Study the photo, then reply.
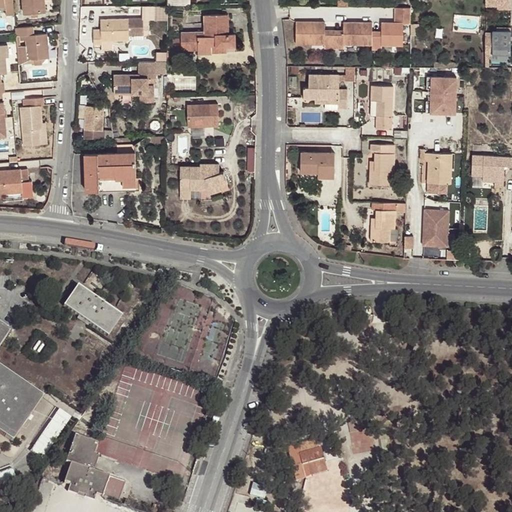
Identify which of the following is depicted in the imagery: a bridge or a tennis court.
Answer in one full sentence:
Of the two, only a tennis court appears.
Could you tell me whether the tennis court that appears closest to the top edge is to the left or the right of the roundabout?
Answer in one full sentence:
Relative to the roundabout, the tennis court that appears closest to the top edge is on the left.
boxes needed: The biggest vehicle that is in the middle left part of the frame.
[64,238,102,252]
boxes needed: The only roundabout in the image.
[254,250,304,301]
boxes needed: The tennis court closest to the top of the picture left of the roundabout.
[138,285,232,379]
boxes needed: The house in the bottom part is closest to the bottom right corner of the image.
[288,439,328,480]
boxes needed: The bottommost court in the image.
[97,366,204,476]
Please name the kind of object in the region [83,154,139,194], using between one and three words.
house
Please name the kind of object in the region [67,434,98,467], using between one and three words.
building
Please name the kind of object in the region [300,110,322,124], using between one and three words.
swimming pool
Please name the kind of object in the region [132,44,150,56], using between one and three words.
swimming pool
